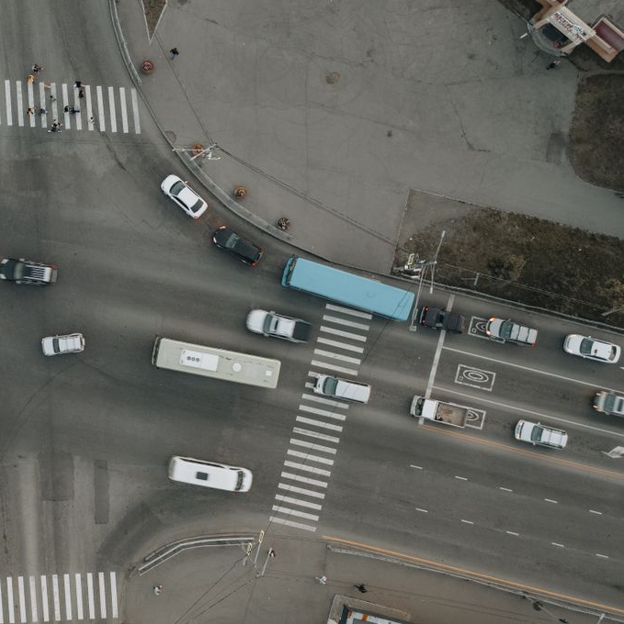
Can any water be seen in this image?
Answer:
No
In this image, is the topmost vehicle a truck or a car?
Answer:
car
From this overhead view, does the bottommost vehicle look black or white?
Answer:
white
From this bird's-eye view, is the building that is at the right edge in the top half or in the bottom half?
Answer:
top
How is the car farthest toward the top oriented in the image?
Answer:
on a diagonal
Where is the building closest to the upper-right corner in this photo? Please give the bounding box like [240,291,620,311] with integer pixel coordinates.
[522,0,624,63]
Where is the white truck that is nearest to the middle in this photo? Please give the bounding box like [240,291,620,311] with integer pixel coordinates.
[244,313,313,343]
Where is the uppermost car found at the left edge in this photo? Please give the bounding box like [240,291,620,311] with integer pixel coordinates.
[0,259,58,285]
